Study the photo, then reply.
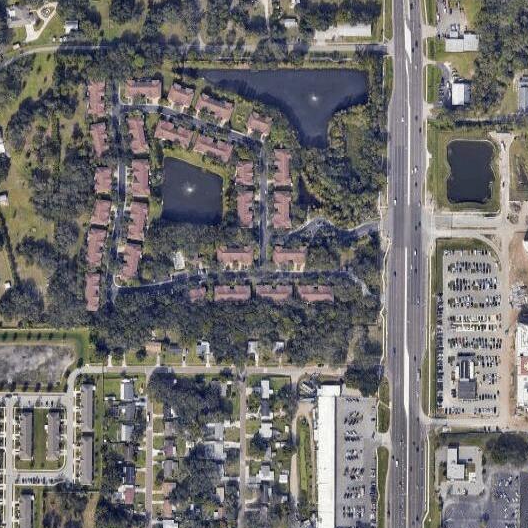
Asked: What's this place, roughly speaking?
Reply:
residential area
